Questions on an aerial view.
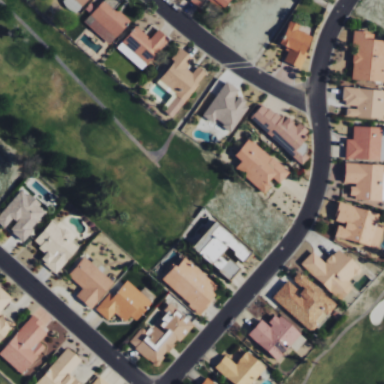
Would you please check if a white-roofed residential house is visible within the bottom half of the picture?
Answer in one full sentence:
Yes, a white-roofed residential house appears within the bottom half of the picture.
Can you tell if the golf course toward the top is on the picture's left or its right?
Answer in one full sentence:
The golf course toward the top is on the left side of the image.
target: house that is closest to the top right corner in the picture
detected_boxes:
[353,30,384,82]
